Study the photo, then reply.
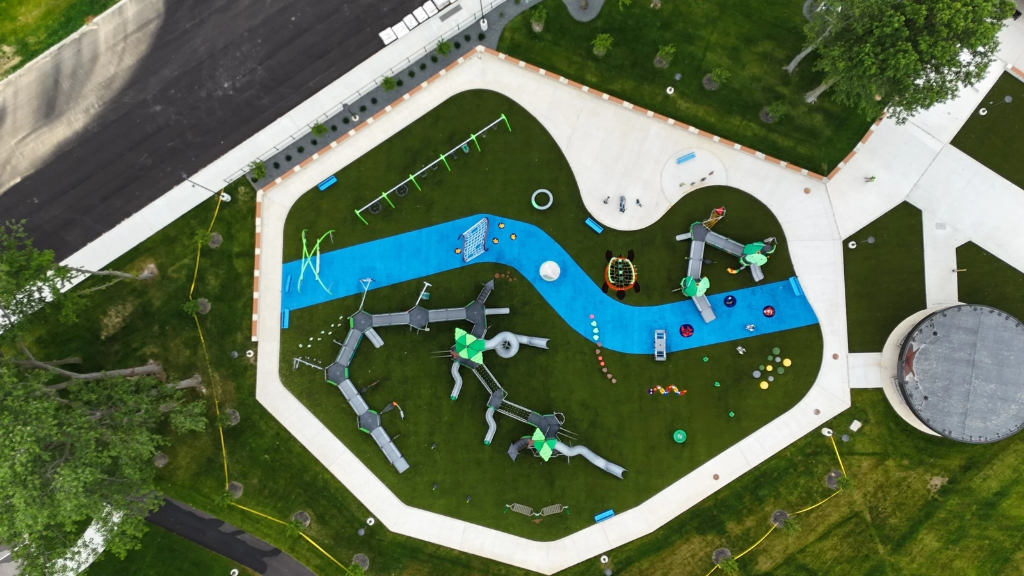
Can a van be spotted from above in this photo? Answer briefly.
No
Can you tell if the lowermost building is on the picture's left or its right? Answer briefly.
right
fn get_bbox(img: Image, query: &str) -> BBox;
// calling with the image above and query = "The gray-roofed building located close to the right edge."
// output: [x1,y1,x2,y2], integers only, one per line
[897,302,1024,443]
